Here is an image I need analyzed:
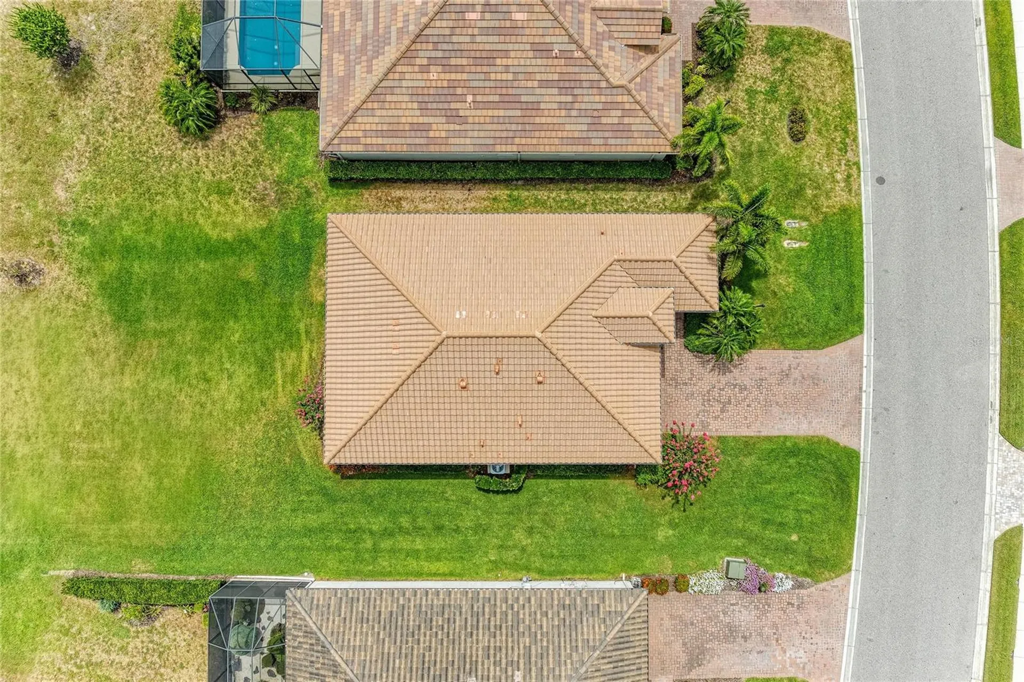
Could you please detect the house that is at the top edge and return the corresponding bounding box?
[318,0,684,161]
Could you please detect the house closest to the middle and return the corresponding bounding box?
[323,211,721,465]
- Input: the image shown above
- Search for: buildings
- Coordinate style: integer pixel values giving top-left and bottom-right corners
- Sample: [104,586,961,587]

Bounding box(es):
[323,211,721,465]
[284,579,650,682]
[318,0,684,161]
